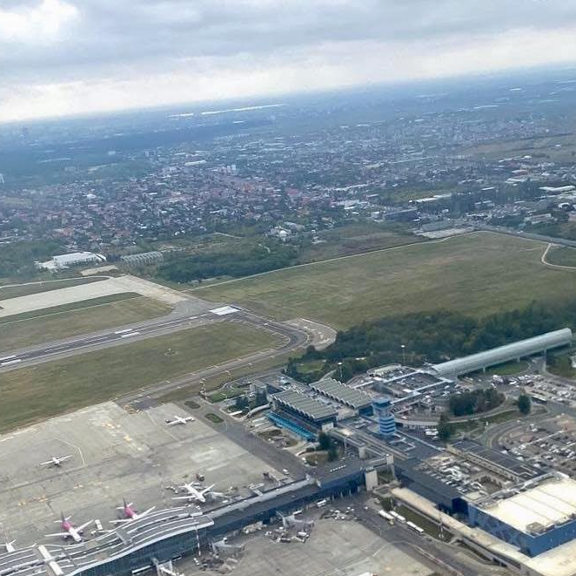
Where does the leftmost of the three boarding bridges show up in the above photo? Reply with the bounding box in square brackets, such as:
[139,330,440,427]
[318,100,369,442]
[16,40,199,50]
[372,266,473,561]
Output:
[157,557,182,576]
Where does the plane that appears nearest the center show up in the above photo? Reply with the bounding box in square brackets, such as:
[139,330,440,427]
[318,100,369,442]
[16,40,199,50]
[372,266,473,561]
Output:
[166,410,194,426]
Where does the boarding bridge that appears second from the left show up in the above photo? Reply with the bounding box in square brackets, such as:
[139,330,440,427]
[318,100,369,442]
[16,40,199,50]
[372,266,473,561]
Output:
[206,538,243,559]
